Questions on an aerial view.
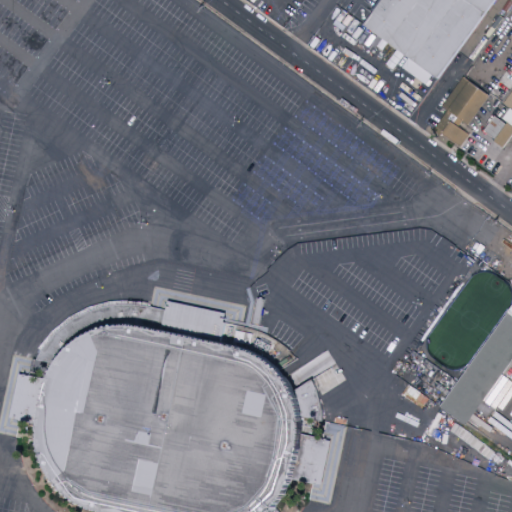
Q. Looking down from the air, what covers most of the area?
paved ground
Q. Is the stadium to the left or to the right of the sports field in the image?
to the left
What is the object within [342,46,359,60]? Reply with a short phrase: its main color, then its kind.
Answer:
white vehicle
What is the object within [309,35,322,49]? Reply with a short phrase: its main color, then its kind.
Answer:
white vehicle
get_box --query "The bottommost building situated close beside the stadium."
[297,434,332,484]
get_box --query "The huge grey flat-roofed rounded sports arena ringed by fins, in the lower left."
[34,325,304,512]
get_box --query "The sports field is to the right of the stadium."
[428,270,512,370]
